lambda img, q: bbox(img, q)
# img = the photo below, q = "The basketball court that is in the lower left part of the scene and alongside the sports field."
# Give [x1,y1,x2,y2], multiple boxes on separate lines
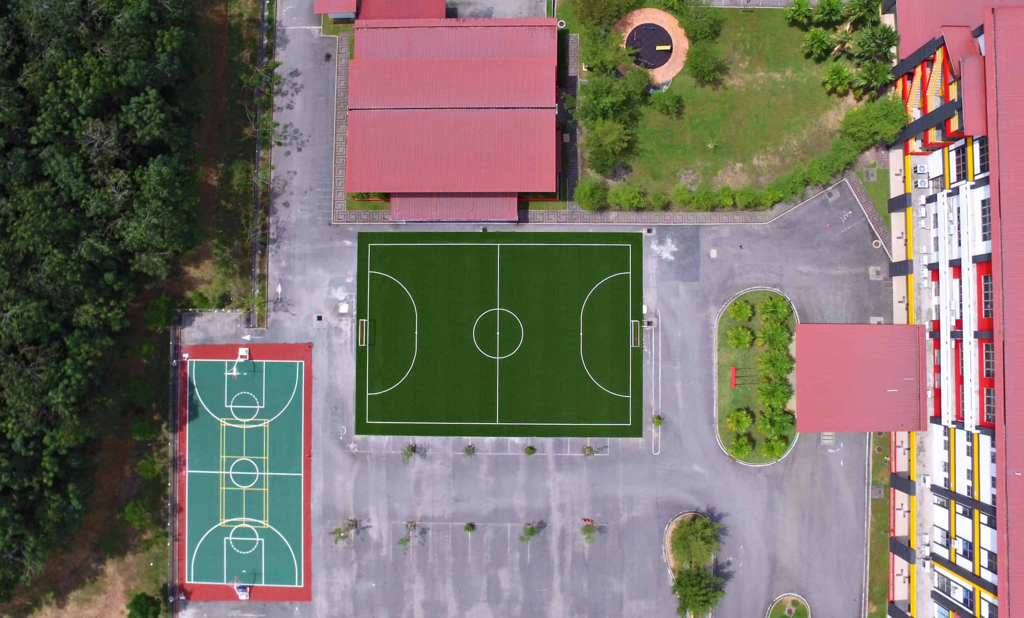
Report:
[179,343,312,601]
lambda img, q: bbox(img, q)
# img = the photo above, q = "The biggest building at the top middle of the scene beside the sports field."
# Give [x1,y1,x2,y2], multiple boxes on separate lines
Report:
[345,18,562,225]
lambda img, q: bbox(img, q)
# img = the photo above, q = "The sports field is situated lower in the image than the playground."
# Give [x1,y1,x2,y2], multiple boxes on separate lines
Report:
[354,231,644,439]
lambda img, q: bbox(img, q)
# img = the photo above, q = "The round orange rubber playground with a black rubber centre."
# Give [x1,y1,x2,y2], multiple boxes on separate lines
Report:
[614,8,689,83]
